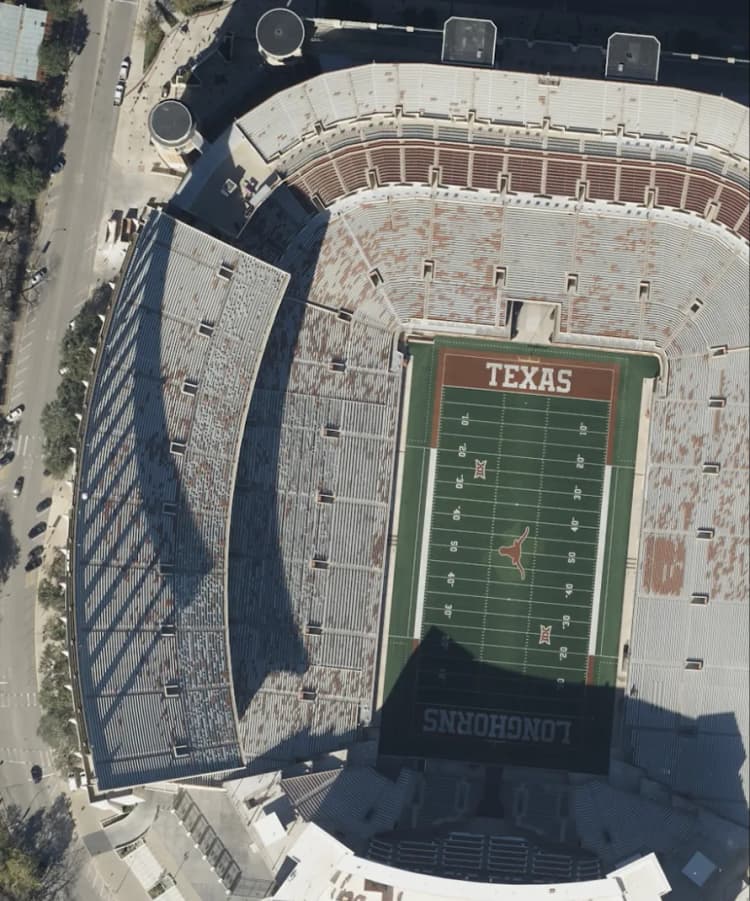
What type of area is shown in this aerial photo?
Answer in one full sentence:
This looks like a sports ground.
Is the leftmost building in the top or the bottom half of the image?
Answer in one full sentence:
It is in the top half that the leftmost building appears.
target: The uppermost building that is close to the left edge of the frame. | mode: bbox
[0,4,48,83]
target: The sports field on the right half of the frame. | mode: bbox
[378,338,658,772]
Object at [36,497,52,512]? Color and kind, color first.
black car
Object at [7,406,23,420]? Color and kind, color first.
white car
